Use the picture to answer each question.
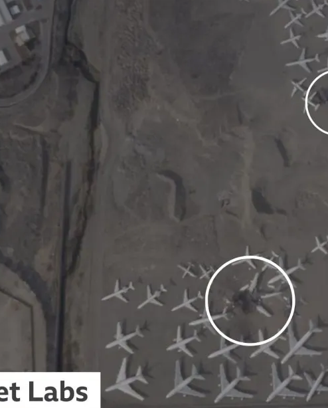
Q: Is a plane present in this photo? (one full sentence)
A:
Yes, a plane can be made out from above.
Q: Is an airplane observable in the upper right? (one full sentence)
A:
Yes, an airplane shows up in the upper right.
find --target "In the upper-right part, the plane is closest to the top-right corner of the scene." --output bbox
[305,0,328,18]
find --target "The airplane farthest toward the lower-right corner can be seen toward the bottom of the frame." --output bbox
[304,368,328,402]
